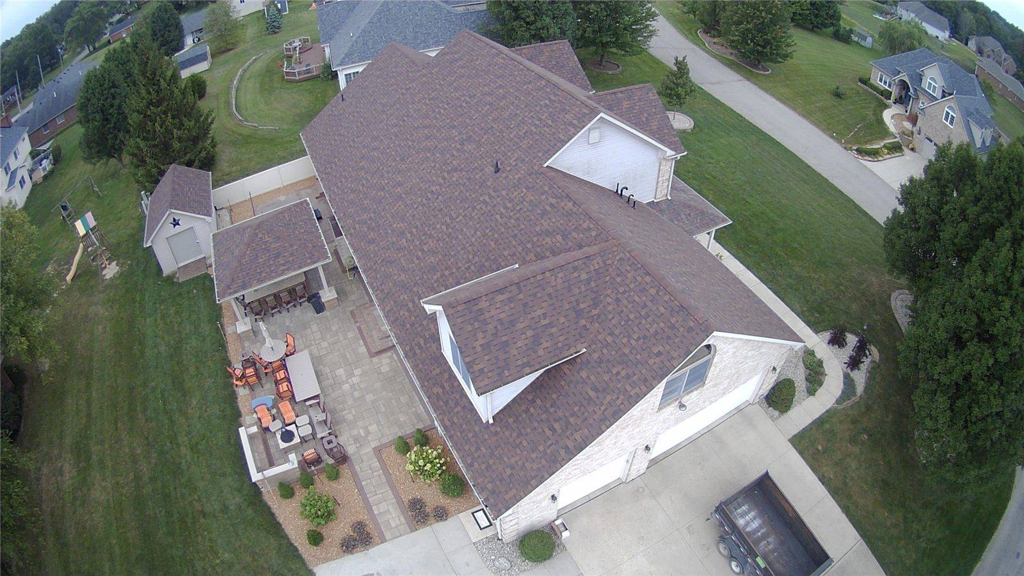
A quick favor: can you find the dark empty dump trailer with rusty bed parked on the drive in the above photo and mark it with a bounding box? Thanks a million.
[707,467,842,576]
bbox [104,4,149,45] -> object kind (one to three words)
house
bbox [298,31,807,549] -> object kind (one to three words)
house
